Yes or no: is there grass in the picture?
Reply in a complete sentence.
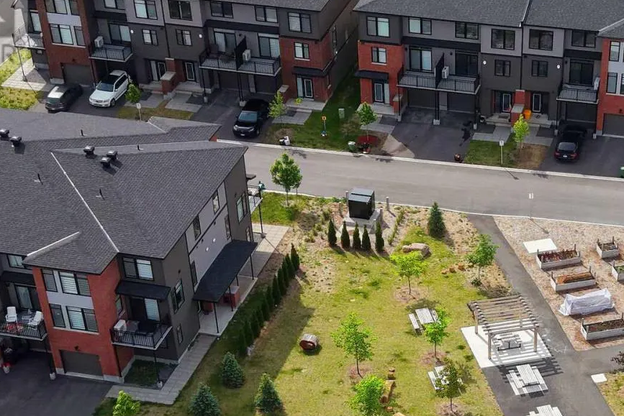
Yes, grass shows up in the scene.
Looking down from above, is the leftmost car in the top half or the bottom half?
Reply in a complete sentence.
The leftmost car sits in the top half of the picture.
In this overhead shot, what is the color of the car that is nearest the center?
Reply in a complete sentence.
The color of the car that is nearest the center is black.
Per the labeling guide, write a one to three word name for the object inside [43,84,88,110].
car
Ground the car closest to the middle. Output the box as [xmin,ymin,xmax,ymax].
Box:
[230,97,270,137]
